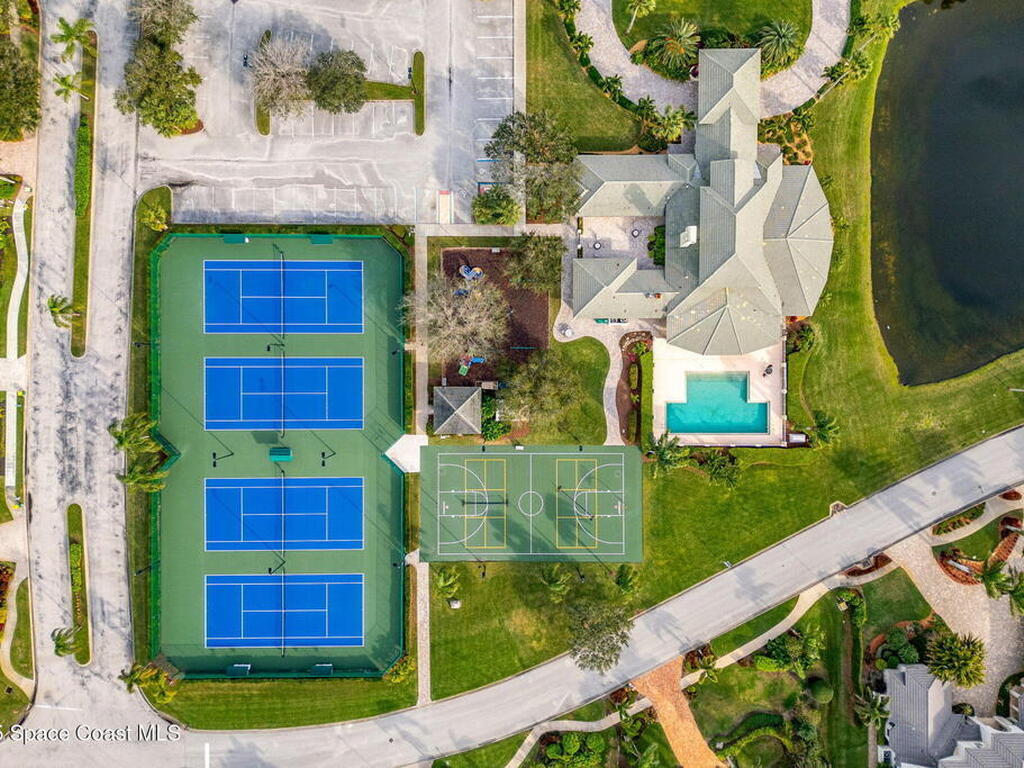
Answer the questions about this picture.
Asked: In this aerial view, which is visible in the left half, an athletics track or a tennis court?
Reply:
tennis court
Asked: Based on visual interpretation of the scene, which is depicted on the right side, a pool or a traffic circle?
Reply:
pool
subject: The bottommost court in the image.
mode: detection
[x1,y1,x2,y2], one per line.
[206,568,363,656]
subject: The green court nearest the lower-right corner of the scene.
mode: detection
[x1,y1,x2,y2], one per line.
[420,446,643,561]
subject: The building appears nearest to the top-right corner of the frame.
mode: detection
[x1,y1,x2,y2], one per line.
[573,49,834,355]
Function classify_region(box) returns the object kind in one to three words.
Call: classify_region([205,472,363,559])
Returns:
tennis court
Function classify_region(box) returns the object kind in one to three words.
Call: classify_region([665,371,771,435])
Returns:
swimming pool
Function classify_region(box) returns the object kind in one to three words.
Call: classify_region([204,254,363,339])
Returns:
tennis court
